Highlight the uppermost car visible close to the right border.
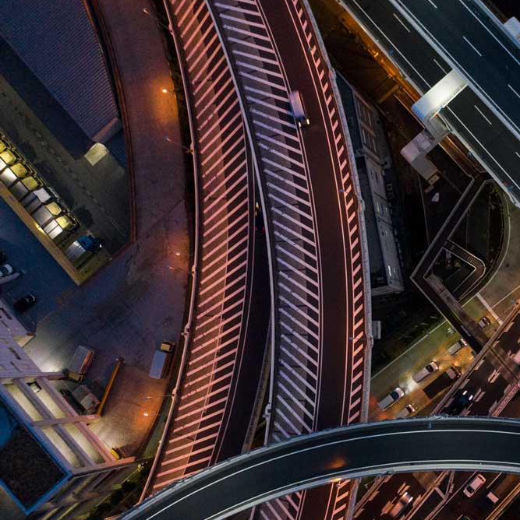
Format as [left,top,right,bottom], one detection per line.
[478,312,497,330]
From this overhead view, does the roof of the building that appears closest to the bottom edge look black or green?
black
